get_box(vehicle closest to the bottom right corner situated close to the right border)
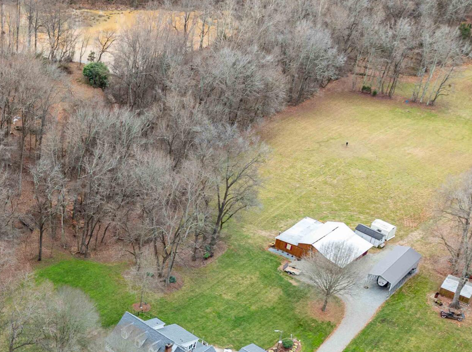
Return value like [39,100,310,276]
[440,310,468,324]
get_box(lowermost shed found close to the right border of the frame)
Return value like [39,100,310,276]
[439,275,472,305]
